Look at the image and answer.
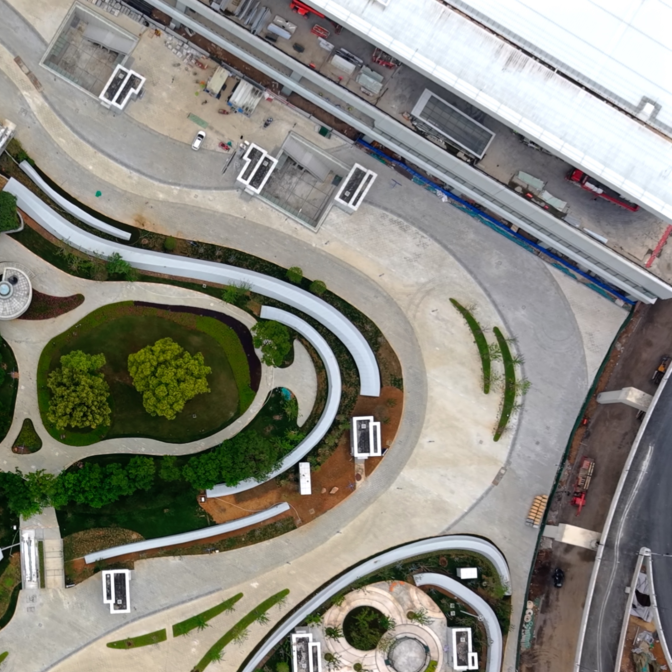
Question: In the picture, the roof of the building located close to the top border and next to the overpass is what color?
white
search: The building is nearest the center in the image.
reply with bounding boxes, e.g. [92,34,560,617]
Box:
[351,416,381,459]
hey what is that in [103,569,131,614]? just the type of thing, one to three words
building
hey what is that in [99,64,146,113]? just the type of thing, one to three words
building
